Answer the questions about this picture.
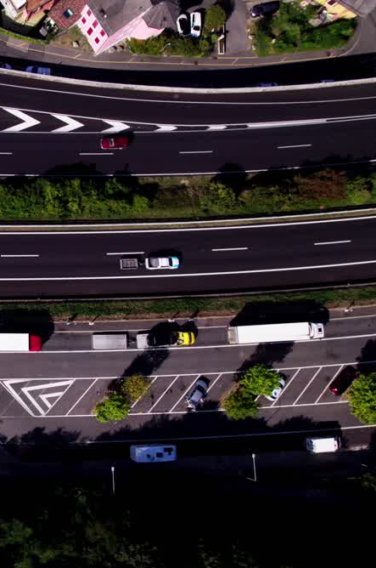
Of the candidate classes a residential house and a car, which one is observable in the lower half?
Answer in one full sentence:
Looking in the lower half, you will find a car.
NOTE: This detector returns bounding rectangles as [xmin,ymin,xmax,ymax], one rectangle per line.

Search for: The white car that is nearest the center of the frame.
[146,256,178,270]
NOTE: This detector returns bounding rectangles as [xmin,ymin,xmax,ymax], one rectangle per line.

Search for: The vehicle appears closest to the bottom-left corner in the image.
[126,444,175,462]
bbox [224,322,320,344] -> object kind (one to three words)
truck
